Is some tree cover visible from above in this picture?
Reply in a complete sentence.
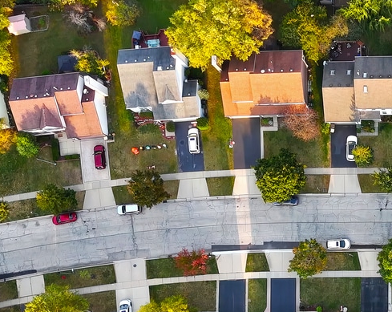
Yes, tree cover shows up in the scene.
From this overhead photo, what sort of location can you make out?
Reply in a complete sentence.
This looks like a residential area.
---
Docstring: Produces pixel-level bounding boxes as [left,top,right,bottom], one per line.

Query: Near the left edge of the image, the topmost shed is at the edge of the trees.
[6,14,35,37]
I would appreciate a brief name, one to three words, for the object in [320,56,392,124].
house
